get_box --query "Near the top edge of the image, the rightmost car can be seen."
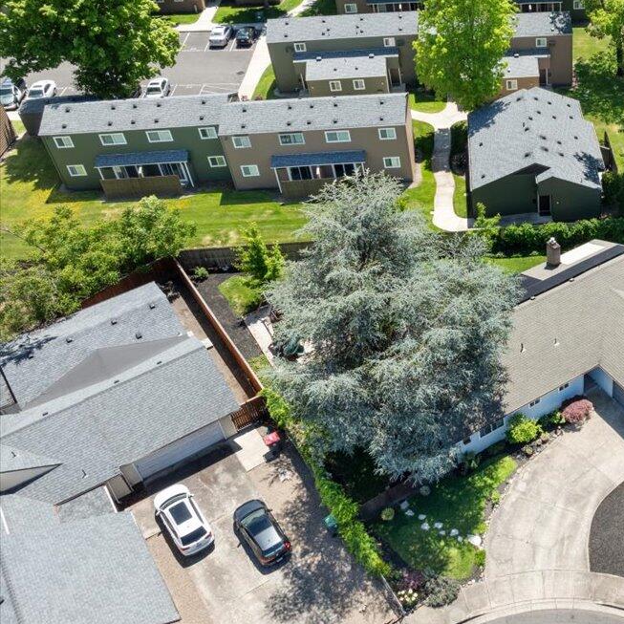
[234,27,258,45]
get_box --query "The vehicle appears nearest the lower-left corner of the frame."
[150,482,214,560]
